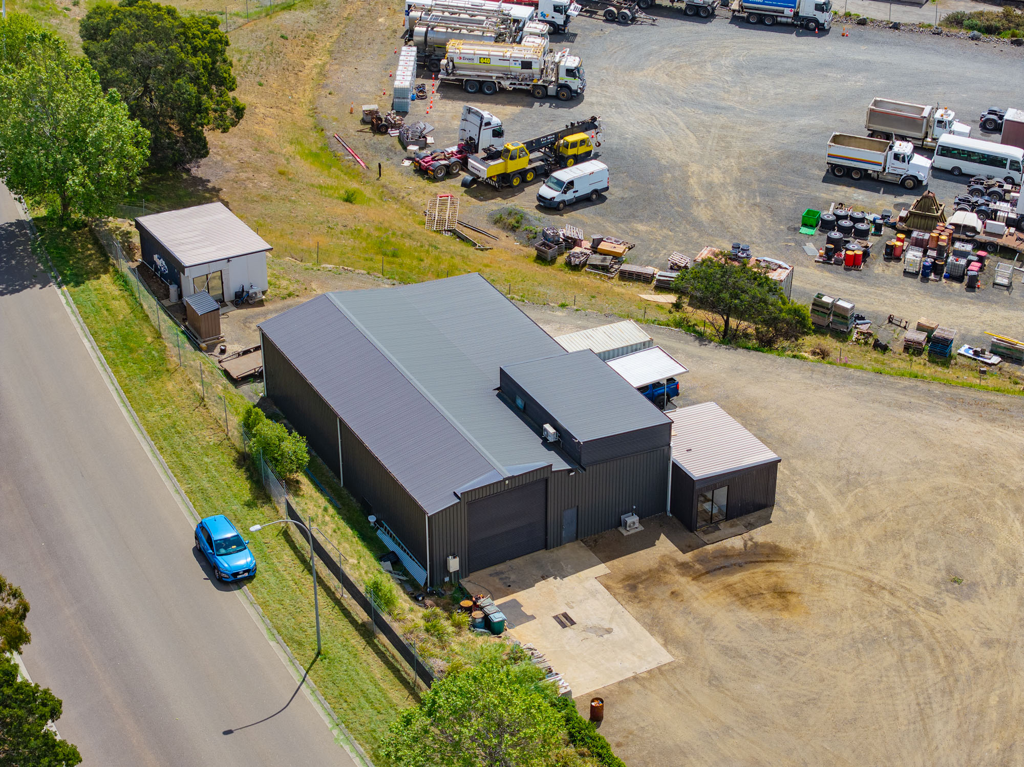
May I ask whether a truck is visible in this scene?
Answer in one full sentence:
Yes, I can see a truck in this picture.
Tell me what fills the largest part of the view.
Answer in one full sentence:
The largest share of the image is taken up by paved ground.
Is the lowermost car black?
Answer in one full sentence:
No, the color of the lowermost car is blue.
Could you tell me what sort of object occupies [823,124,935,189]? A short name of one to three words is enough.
truck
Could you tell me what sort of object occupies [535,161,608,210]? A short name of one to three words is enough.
van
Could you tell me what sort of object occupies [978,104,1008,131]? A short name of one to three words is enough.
truck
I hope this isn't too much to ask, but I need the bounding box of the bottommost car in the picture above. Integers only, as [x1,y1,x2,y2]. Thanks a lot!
[193,512,258,584]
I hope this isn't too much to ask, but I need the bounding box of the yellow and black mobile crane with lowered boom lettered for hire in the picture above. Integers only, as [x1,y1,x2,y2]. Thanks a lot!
[473,106,593,192]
